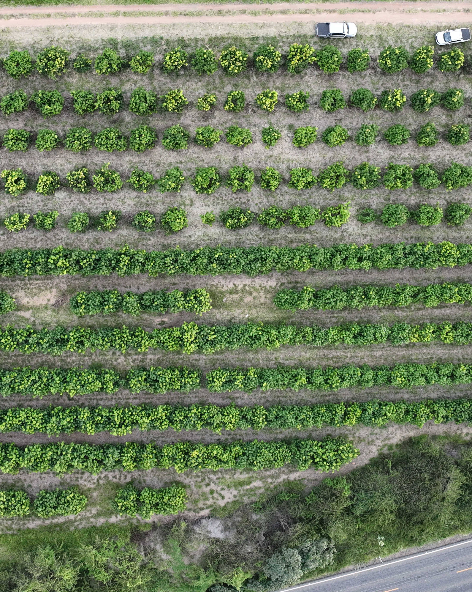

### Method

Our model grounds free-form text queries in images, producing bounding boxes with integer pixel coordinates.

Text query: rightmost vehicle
[433,27,472,46]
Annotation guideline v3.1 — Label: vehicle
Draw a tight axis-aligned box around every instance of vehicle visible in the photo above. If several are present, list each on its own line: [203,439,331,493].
[315,21,356,39]
[433,27,472,46]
